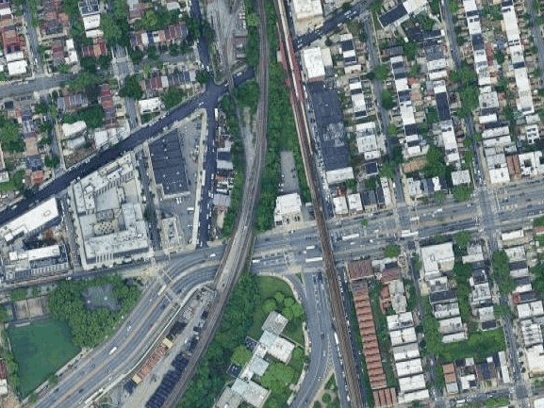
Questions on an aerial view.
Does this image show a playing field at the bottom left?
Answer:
Yes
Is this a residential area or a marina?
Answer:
residential area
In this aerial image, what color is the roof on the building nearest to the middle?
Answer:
white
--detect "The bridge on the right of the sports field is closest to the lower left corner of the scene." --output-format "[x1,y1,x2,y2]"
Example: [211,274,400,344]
[159,217,249,408]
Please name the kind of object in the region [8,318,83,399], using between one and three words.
sports field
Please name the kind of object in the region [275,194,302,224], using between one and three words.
building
